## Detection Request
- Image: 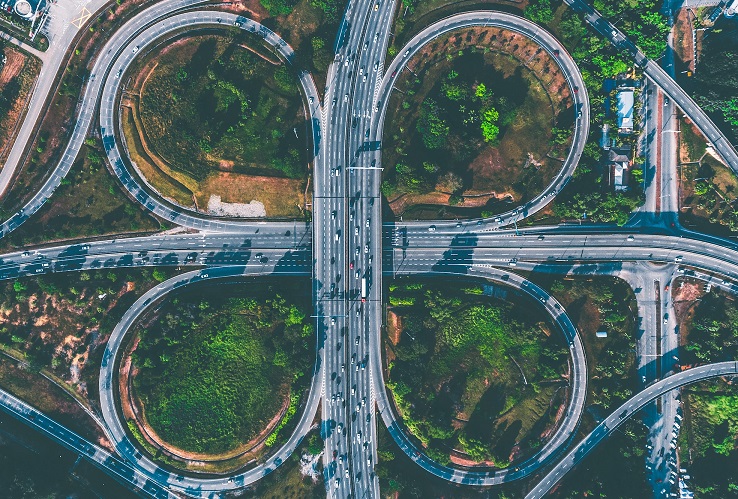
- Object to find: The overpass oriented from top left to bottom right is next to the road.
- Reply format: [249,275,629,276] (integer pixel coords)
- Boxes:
[562,0,738,174]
